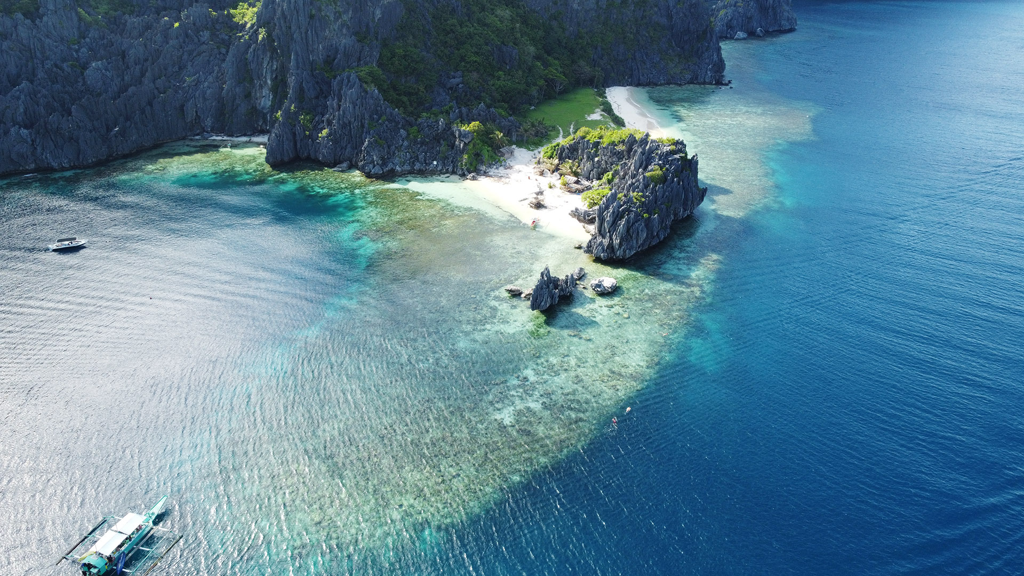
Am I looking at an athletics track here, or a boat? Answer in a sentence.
The one in the frame is a boat.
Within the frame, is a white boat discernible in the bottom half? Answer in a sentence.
Yes, a white boat shows up in the bottom half.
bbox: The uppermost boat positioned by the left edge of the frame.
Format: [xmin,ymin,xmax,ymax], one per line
[47,235,88,251]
